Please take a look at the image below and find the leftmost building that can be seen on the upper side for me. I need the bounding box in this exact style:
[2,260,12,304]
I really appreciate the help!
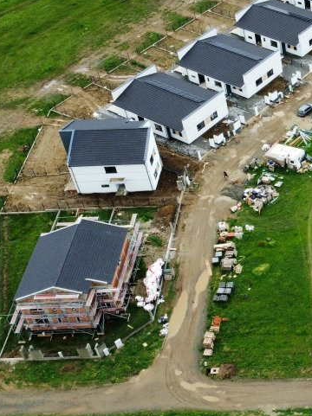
[58,117,162,197]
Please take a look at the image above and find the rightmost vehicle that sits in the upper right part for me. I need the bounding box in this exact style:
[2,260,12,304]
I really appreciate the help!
[296,104,312,117]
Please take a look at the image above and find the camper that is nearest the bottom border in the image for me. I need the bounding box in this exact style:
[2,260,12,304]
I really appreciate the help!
[264,145,312,174]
